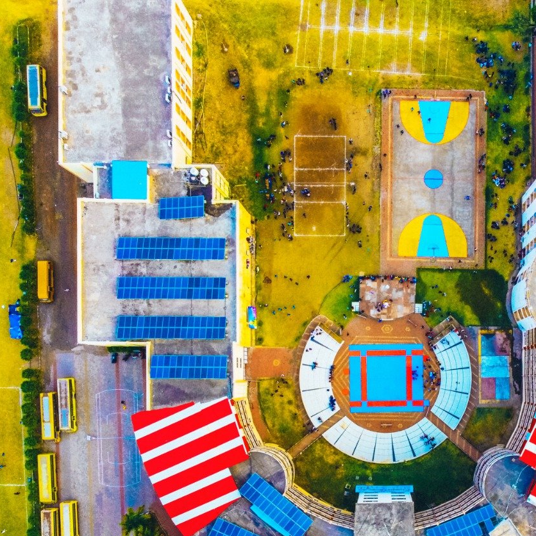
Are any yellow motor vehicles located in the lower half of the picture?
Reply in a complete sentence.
Yes, a yellow motor vehicle appears in the lower half of the picture.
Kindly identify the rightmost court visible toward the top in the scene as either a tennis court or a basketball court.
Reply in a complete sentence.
What you see as the rightmost court visible toward the top is a basketball court.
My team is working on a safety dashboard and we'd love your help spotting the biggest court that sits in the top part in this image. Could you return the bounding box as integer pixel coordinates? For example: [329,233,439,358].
[380,90,485,267]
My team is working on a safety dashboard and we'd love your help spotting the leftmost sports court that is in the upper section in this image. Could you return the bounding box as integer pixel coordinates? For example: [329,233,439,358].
[294,135,347,237]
